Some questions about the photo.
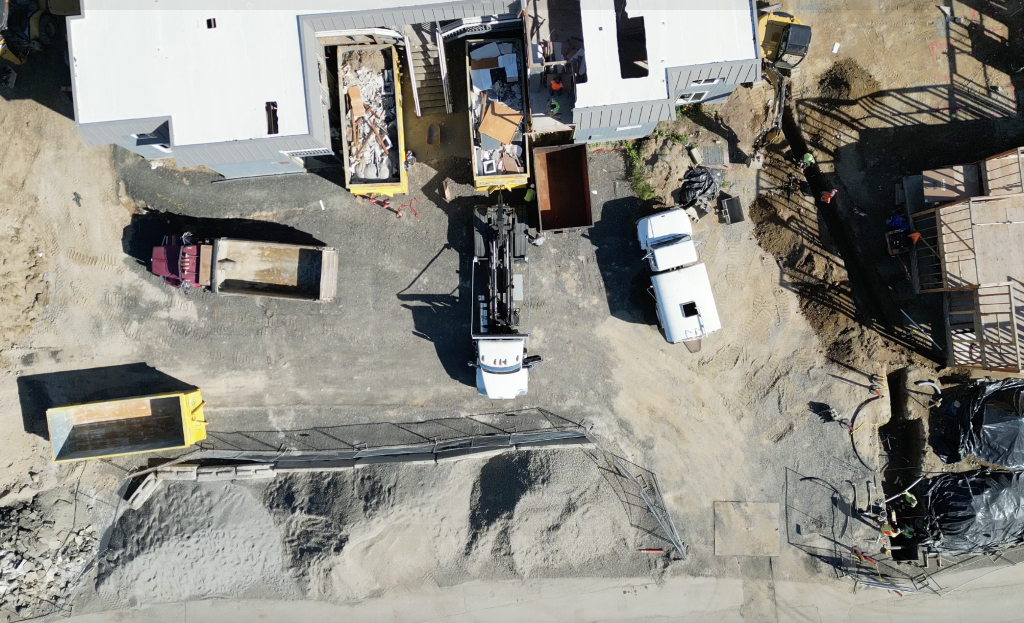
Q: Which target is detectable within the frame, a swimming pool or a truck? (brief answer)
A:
truck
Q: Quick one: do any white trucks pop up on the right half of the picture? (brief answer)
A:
Yes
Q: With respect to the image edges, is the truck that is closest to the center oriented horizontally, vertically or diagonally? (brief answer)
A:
vertically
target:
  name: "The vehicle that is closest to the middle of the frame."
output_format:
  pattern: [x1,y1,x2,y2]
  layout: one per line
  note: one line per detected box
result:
[469,184,539,399]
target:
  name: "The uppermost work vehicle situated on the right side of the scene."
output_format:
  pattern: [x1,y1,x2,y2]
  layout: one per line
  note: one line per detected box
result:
[746,10,816,168]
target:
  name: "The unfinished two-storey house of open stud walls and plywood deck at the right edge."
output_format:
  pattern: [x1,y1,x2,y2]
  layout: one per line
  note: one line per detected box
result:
[896,147,1024,379]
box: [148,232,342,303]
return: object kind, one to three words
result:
truck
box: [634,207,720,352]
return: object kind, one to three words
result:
truck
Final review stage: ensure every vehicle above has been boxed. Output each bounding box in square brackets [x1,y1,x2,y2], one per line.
[0,0,62,66]
[634,207,720,352]
[746,10,816,168]
[148,232,342,303]
[469,184,539,399]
